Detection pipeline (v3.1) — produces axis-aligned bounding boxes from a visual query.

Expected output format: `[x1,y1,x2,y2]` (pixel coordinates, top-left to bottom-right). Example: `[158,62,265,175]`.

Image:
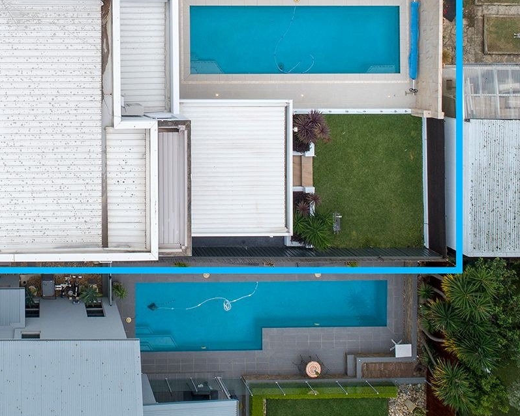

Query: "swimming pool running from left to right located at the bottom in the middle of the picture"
[135,279,386,352]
